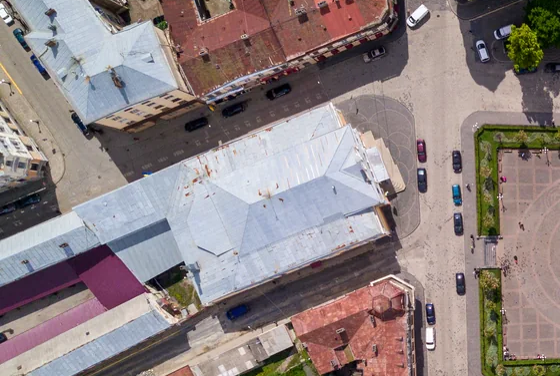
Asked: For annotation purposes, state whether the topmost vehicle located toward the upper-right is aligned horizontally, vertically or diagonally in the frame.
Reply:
diagonally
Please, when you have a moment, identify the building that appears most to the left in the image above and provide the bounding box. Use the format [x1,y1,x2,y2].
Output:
[0,100,47,192]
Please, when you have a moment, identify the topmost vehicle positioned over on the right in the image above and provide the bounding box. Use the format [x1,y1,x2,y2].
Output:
[404,5,430,28]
